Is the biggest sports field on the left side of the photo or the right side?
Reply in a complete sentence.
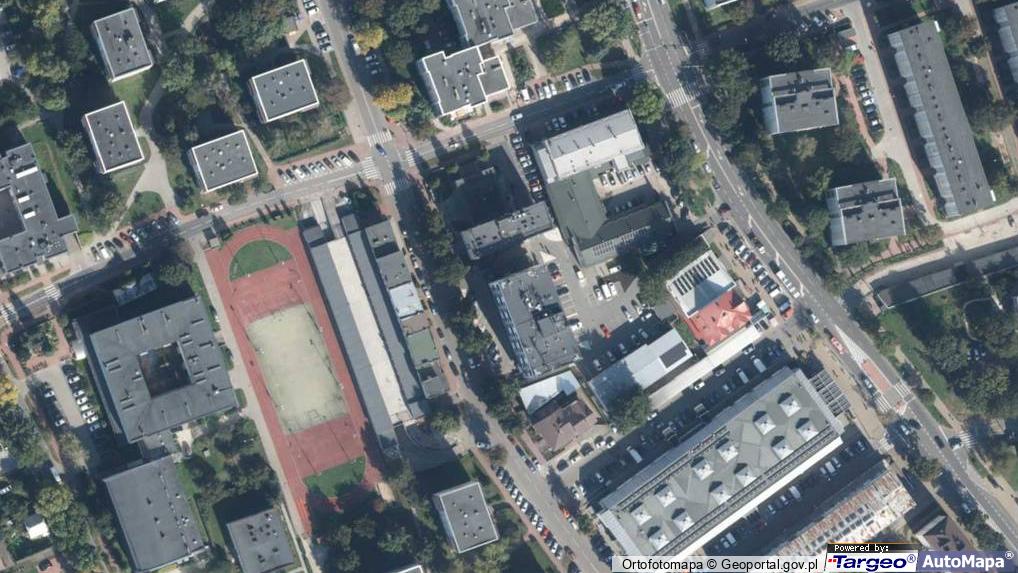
The biggest sports field is on the left side of the image.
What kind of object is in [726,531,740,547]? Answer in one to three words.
vehicle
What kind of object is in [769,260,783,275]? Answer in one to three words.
vehicle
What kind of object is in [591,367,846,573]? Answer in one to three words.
building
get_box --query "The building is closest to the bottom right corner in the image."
[923,525,972,573]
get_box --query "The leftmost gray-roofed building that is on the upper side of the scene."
[0,144,78,275]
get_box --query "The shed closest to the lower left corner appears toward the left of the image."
[24,512,49,541]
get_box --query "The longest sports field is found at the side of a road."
[205,224,383,529]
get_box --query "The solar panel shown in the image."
[660,342,688,368]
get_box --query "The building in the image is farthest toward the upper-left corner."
[90,8,152,81]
